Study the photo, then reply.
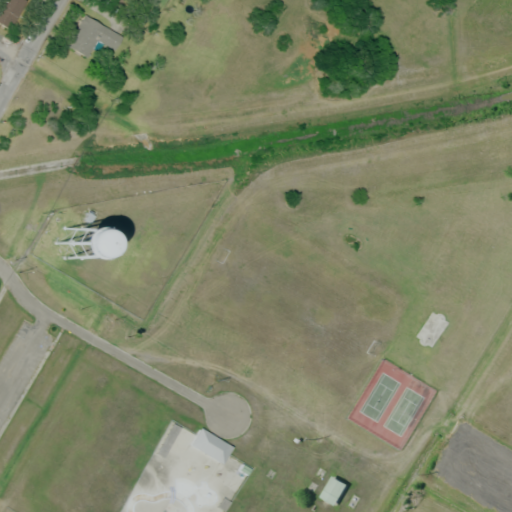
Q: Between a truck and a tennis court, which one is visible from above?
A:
tennis court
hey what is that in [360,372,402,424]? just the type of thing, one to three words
tennis court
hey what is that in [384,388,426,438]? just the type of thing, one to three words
tennis court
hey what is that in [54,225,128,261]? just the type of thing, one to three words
water tower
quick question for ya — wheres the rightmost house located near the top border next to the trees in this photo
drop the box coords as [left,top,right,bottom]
[72,15,122,57]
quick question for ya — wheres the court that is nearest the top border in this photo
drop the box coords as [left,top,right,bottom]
[417,312,450,348]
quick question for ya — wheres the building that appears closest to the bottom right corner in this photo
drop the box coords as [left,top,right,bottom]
[317,476,346,506]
